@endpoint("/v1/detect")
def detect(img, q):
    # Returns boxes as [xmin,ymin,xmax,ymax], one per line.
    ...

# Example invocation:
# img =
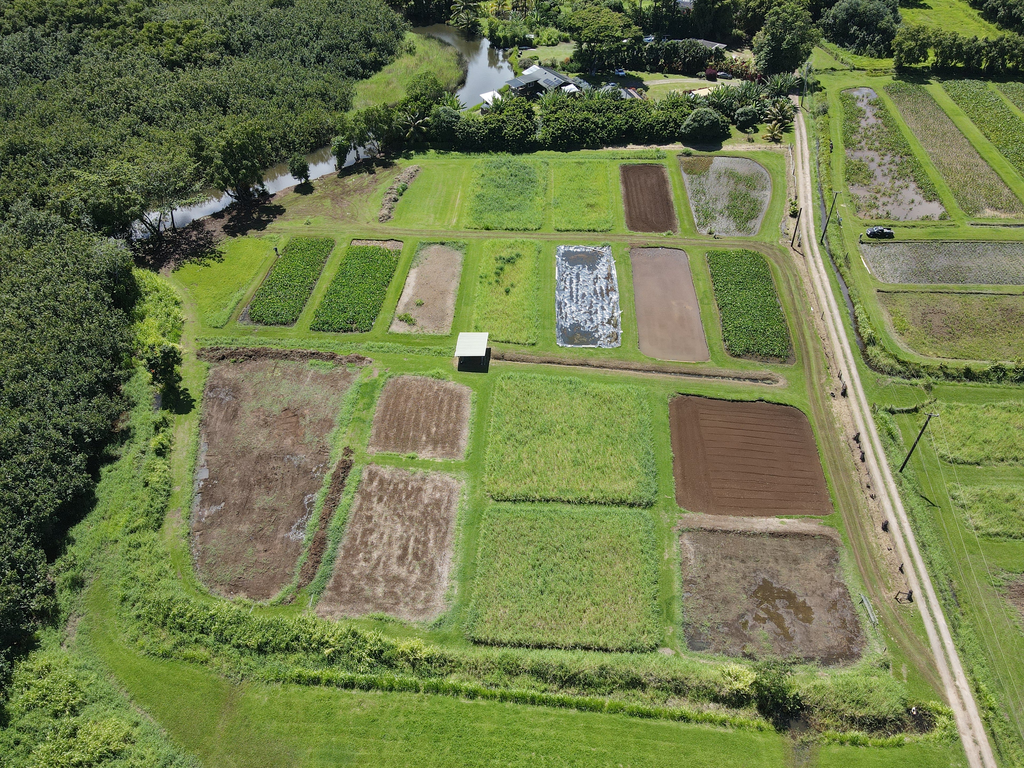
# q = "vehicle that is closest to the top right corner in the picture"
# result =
[865,226,899,238]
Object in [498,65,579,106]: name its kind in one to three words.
house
